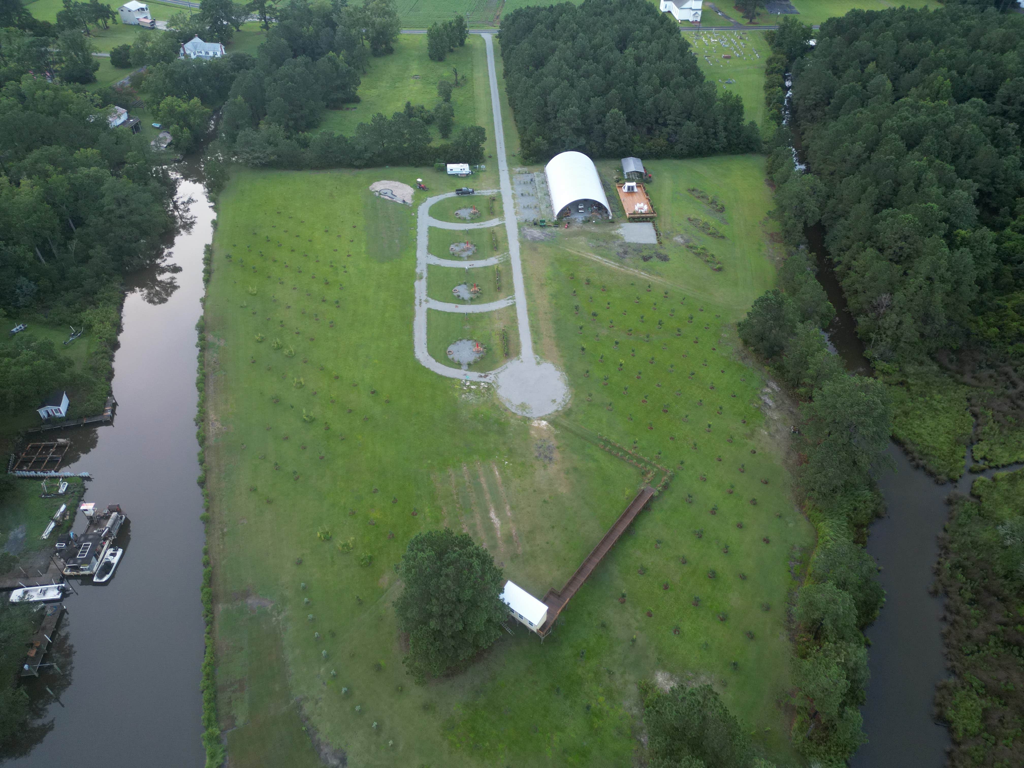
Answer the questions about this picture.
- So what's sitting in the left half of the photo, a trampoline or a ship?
ship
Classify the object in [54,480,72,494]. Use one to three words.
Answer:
boat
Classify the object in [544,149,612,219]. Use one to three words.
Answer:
building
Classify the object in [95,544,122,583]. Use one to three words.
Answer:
boat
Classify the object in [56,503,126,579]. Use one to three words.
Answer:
ship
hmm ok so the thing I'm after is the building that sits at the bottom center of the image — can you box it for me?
[497,577,550,638]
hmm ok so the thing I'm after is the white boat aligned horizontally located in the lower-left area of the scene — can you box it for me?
[6,585,69,601]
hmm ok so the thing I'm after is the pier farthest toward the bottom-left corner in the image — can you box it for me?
[21,606,65,677]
